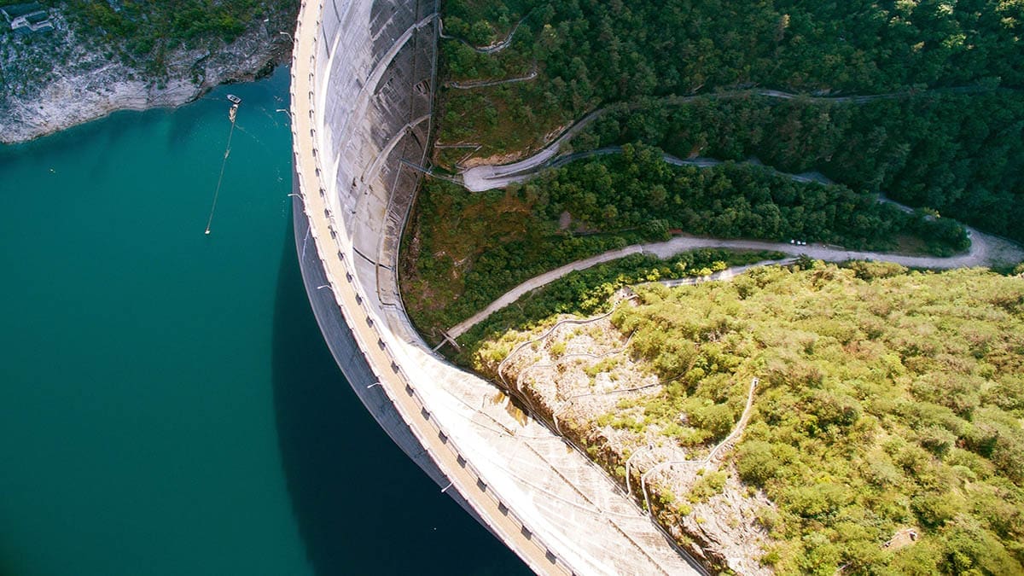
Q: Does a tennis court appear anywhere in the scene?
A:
No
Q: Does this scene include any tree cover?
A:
Yes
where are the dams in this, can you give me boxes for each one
[287,0,711,576]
